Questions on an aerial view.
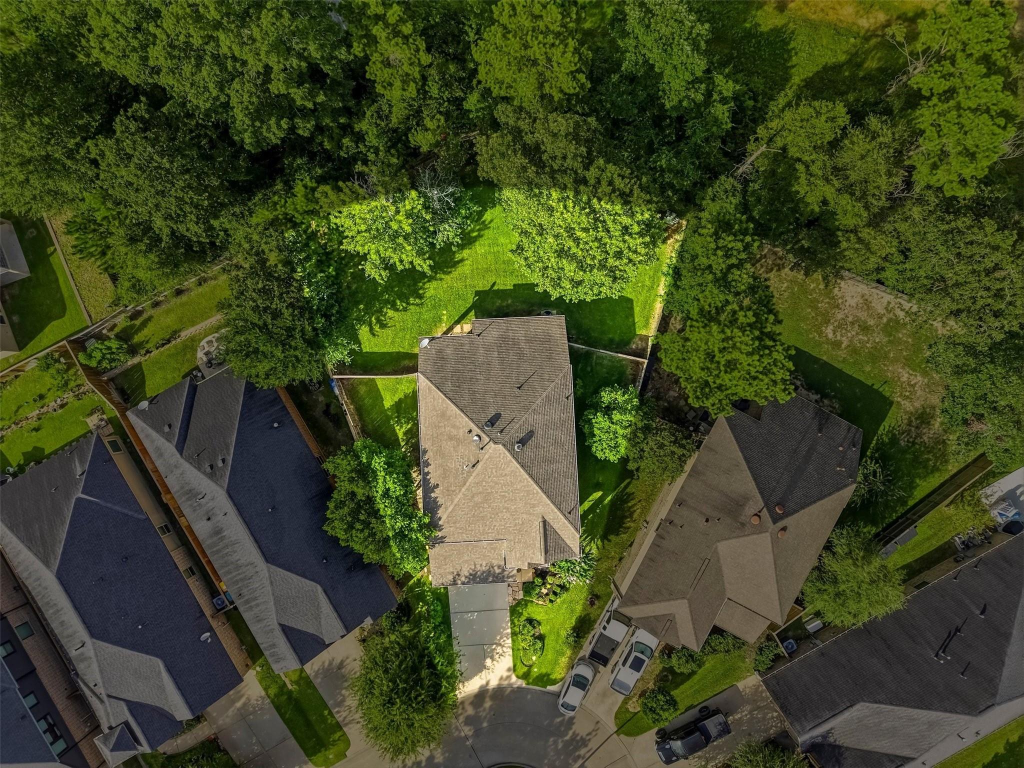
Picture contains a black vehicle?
Yes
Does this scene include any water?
No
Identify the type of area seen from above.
residential area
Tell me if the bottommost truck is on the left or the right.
right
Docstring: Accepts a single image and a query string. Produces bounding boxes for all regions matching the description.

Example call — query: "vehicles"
[608,625,657,696]
[586,595,635,672]
[555,655,595,718]
[658,701,731,757]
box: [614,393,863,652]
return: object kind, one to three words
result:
house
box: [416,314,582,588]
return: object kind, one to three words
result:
house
